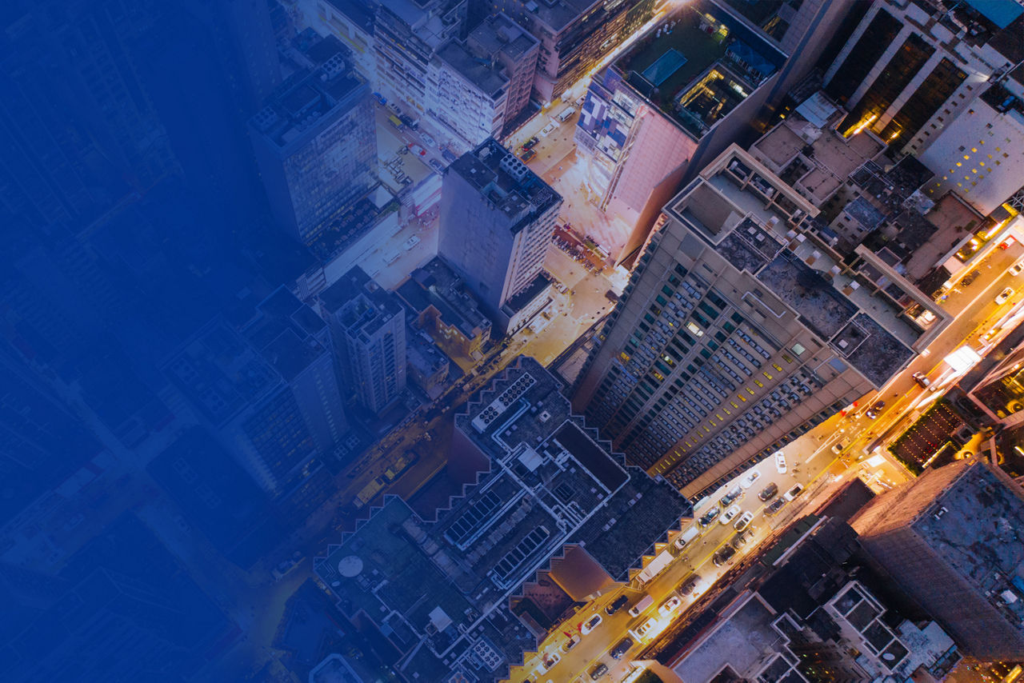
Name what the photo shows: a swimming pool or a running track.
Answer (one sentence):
I can see a swimming pool in this picture.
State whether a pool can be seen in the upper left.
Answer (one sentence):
No, in the upper left there is no pool.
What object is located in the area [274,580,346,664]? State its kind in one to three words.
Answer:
building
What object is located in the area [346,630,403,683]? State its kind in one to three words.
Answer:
building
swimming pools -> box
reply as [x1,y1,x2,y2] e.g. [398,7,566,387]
[644,50,685,85]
